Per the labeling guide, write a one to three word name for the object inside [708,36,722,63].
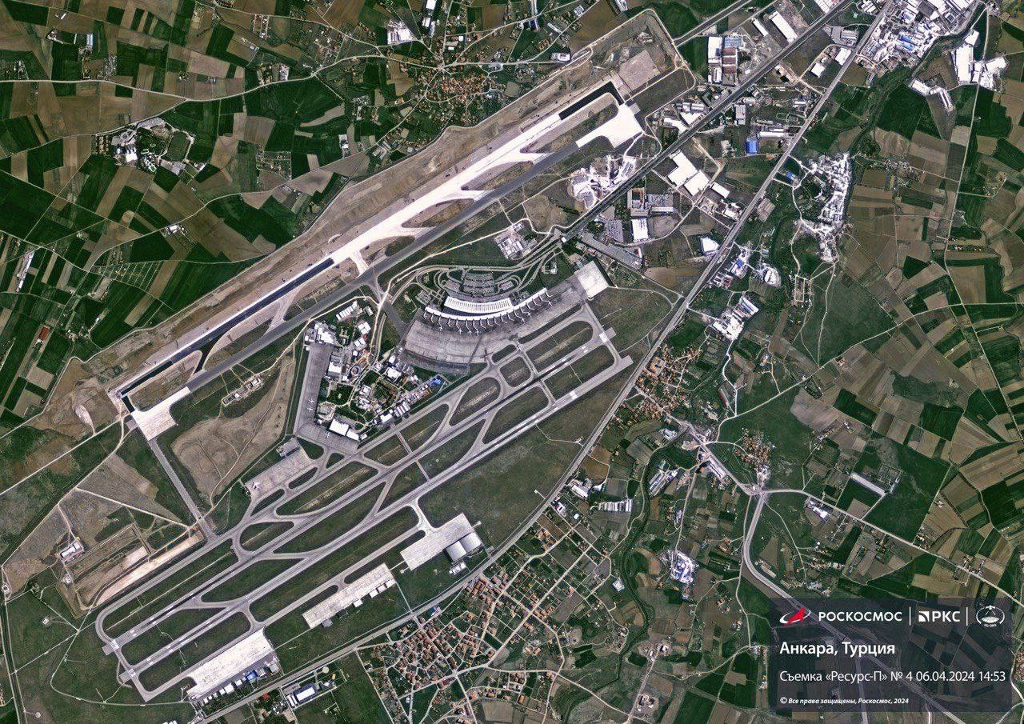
building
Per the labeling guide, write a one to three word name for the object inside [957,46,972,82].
building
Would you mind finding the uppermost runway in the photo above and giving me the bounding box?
[118,81,623,412]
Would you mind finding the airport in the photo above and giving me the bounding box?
[4,10,694,723]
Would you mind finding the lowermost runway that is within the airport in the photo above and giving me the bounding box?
[129,355,630,677]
